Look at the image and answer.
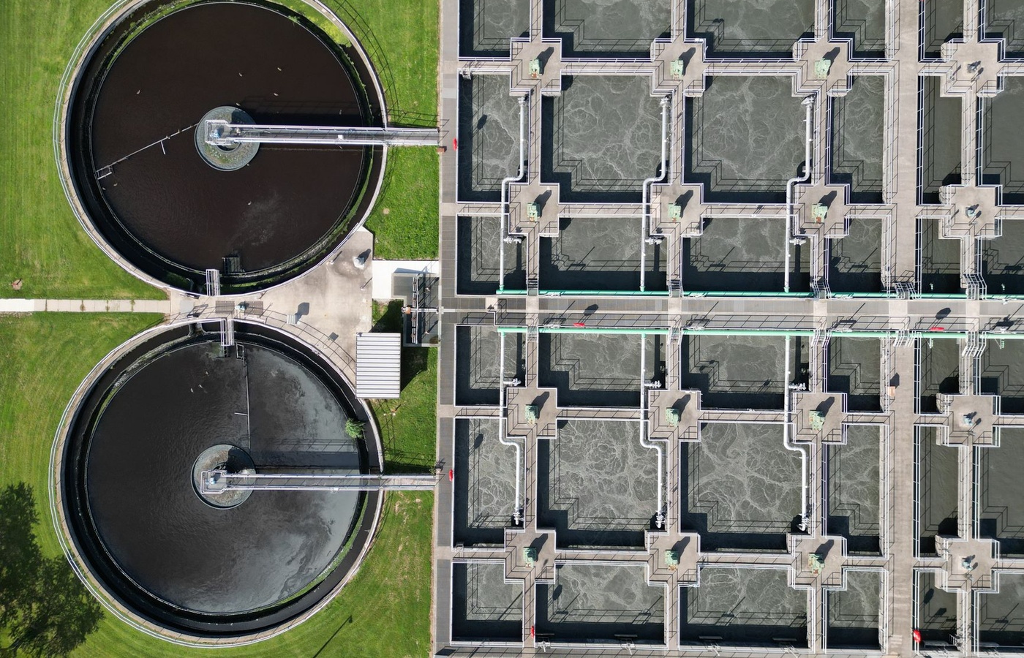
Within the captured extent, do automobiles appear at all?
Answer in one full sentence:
No, I find no automobile anywhere in the image.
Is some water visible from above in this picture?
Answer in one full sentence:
Yes, water shows up in the scene.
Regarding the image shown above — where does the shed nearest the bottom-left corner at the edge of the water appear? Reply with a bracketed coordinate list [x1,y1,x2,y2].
[356,333,404,399]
